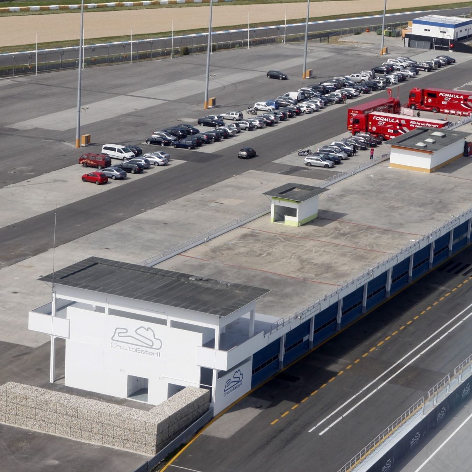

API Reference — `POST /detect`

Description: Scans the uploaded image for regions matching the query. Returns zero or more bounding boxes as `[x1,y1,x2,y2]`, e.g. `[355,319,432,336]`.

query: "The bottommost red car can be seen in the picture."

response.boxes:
[79,172,111,186]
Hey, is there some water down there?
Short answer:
No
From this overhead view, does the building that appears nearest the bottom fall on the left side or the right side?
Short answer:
left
